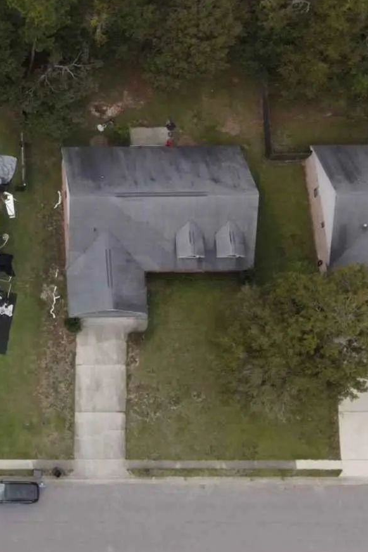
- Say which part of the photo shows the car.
bottom left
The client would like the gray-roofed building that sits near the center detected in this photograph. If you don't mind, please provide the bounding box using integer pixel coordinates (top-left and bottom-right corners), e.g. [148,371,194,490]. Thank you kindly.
[61,145,259,319]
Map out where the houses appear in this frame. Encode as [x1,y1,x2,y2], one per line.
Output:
[300,145,368,316]
[61,145,259,319]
